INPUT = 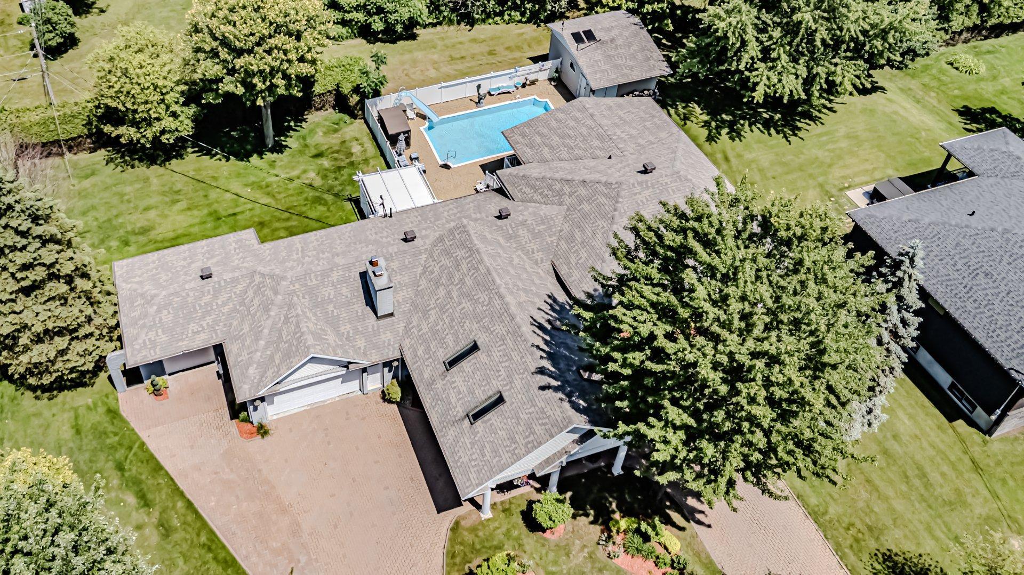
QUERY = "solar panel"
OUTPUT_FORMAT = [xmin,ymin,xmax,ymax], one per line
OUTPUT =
[577,29,612,60]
